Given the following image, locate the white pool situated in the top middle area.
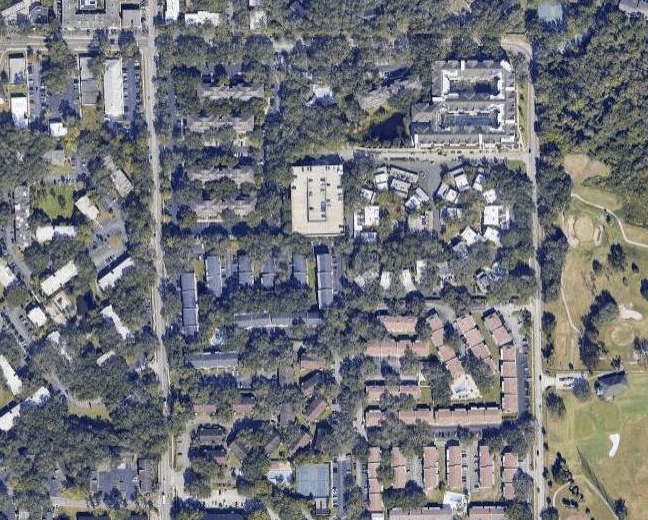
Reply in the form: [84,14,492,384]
[313,85,333,105]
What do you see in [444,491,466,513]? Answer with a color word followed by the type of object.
white swimming pool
